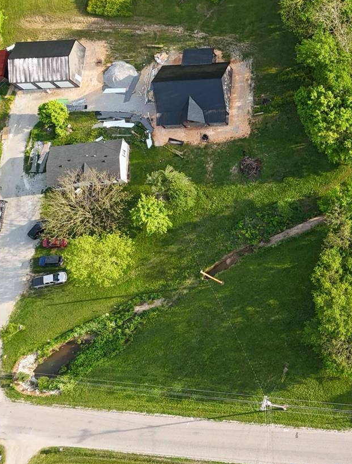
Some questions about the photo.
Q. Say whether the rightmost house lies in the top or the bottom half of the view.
top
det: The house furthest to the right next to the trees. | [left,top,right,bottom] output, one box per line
[150,48,232,133]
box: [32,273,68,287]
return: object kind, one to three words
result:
vehicle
